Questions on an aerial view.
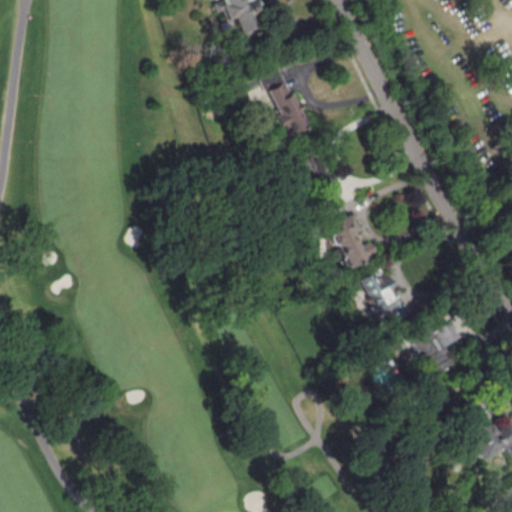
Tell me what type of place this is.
golf course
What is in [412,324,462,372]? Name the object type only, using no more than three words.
house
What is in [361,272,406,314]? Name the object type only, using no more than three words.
house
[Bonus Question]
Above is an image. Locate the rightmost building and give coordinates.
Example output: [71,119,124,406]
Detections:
[482,421,512,464]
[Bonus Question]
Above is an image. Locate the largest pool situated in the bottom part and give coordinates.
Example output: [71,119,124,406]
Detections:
[374,366,388,384]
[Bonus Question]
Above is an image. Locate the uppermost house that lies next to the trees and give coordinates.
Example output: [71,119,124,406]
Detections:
[210,0,267,36]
